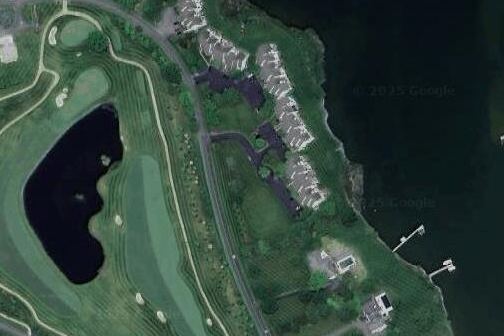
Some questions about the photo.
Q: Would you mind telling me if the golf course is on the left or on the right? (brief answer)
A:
left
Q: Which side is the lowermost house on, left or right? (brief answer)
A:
right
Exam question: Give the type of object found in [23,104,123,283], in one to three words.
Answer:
pond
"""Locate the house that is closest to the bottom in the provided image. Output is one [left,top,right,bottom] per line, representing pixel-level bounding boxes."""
[359,298,388,334]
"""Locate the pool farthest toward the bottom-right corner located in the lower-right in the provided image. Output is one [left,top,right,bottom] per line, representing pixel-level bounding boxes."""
[374,292,393,313]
